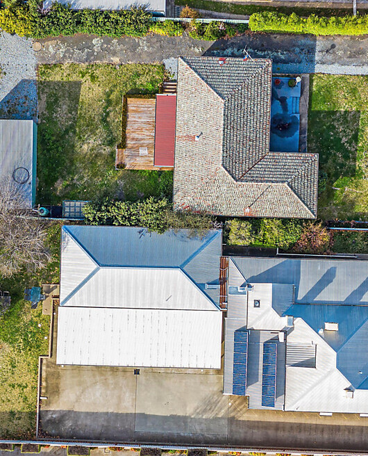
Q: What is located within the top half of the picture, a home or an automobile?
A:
home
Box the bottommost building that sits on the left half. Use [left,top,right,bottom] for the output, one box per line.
[60,225,224,312]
